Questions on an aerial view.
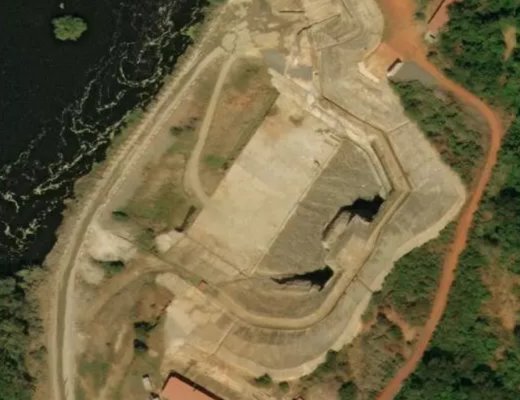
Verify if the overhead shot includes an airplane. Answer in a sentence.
No, no airplane is visible in the scene.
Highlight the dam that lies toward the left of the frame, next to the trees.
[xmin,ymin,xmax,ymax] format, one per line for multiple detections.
[28,0,254,400]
